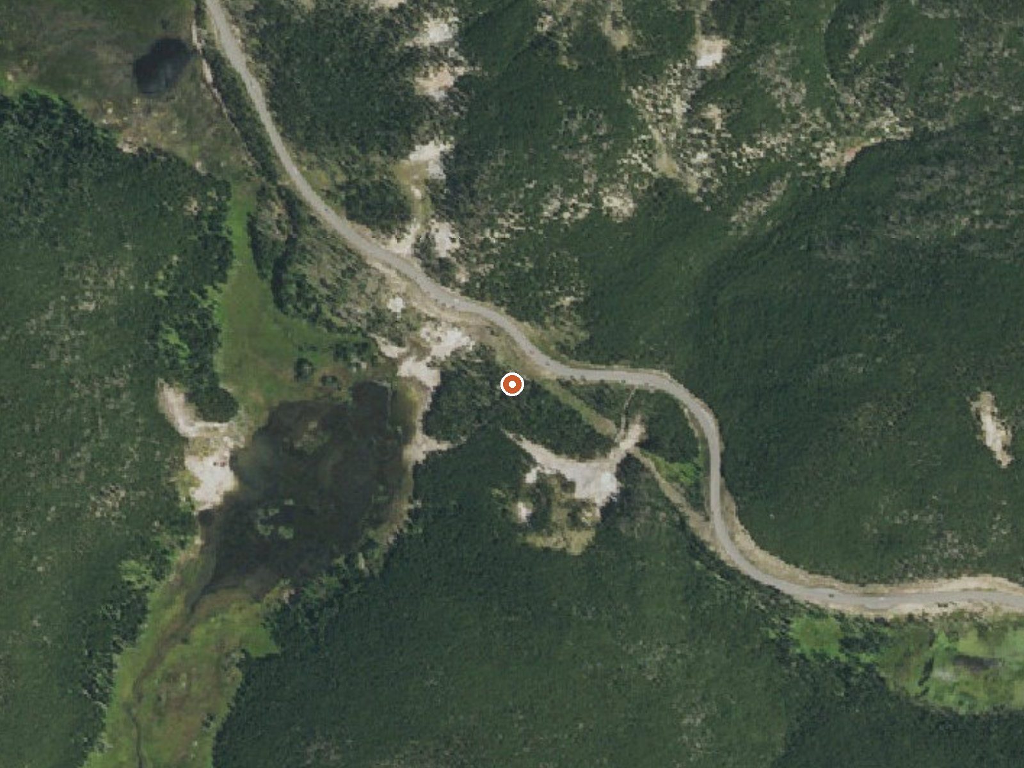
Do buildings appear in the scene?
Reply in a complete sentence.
No, the frame has no building in it.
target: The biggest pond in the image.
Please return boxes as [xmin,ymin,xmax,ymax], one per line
[188,381,416,612]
